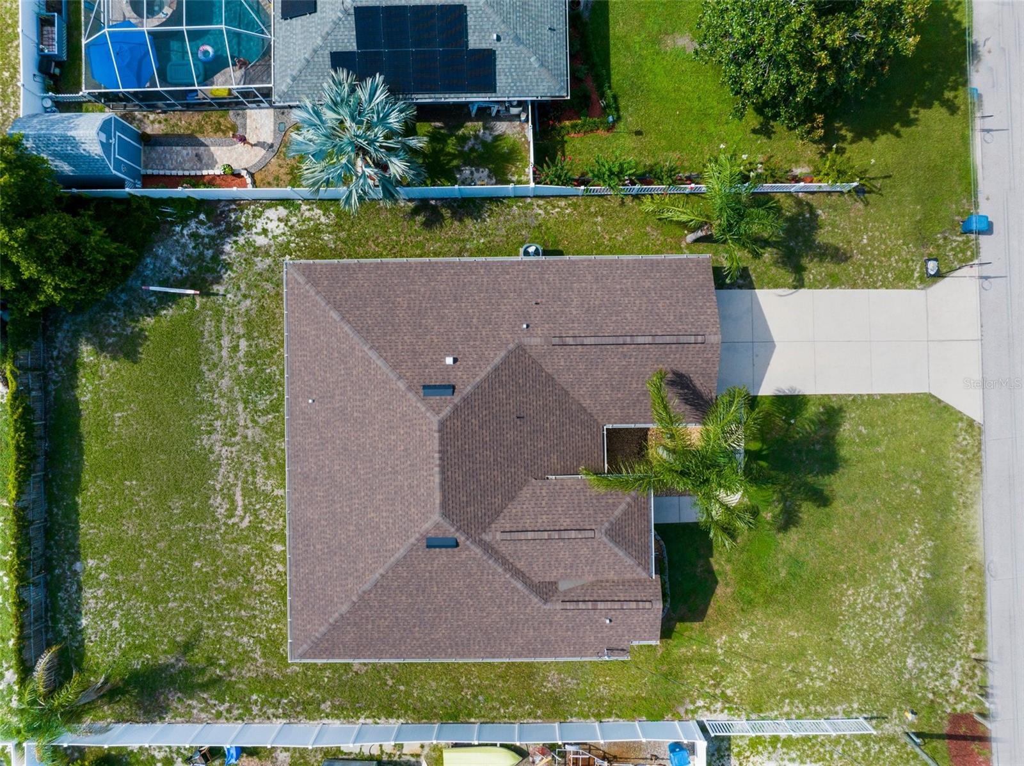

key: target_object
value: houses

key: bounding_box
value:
[269,0,571,108]
[282,253,722,664]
